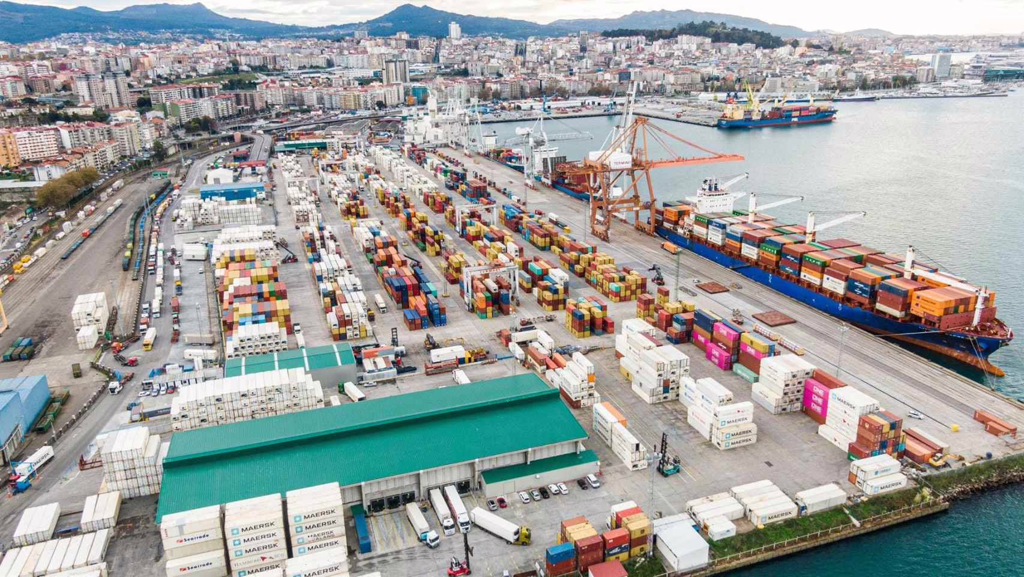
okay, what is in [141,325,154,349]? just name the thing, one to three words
vehicle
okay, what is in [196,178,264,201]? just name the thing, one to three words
building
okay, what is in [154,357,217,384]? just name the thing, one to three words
building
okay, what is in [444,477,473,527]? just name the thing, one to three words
truck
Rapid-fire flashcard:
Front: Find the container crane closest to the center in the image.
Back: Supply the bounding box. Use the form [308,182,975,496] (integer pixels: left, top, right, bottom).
[462,252,524,312]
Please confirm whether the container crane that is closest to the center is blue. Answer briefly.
No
